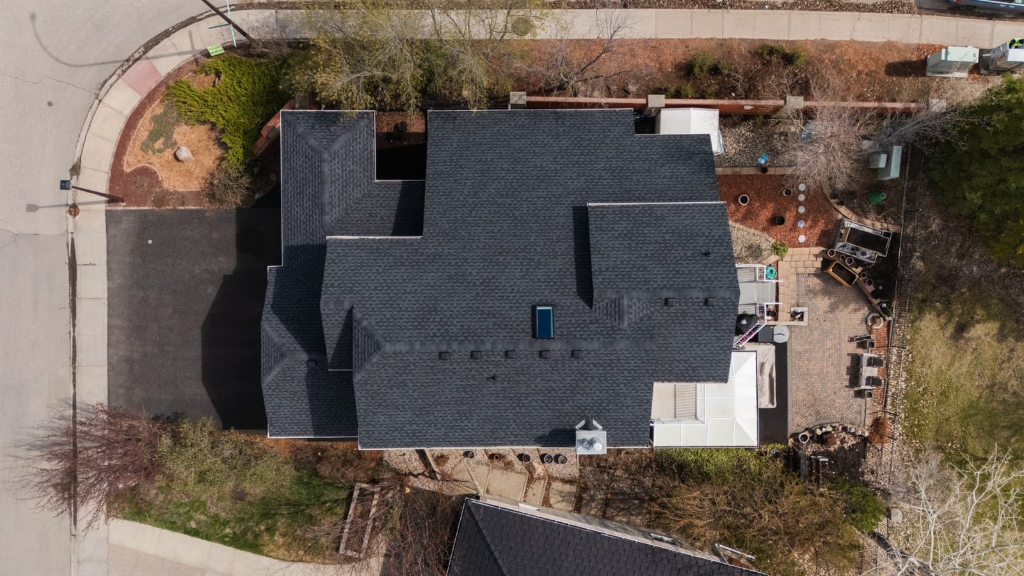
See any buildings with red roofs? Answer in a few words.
No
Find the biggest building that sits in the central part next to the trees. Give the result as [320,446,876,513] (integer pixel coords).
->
[259,107,738,454]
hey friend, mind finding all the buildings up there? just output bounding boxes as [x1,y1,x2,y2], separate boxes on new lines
[448,484,832,576]
[259,107,738,454]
